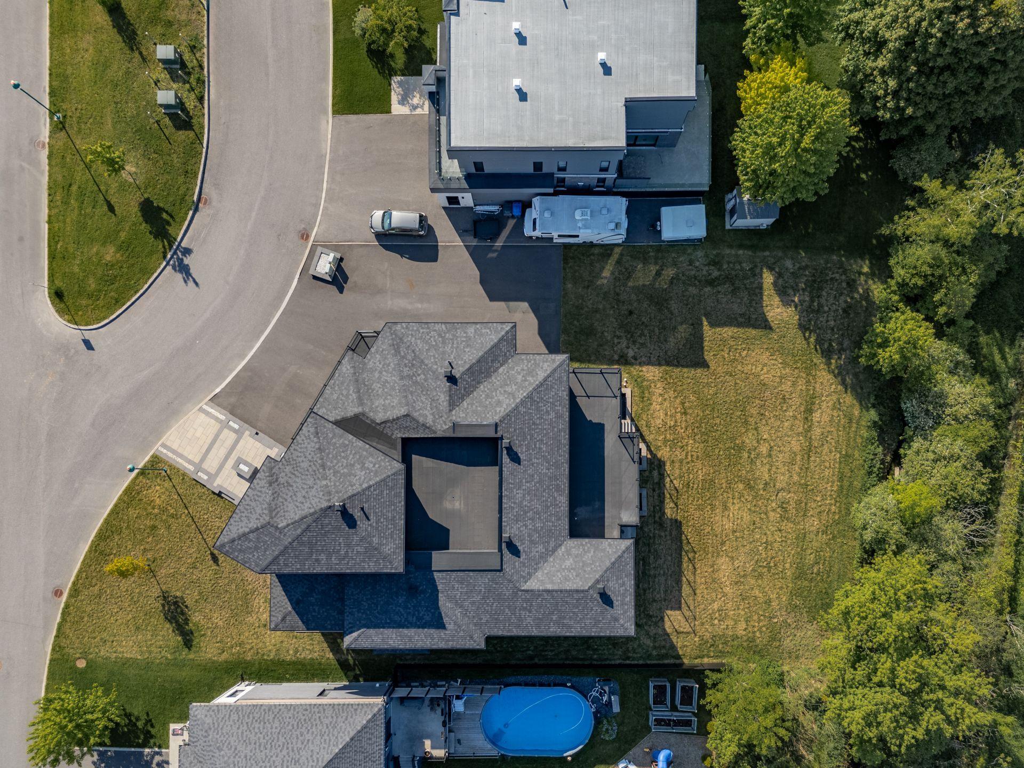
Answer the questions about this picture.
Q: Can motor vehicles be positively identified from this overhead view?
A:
Yes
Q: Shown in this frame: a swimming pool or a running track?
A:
swimming pool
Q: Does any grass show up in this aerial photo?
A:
Yes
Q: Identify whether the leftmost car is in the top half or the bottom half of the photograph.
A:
top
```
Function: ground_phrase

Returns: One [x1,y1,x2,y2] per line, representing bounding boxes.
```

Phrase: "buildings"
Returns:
[724,176,782,229]
[213,322,647,654]
[423,0,709,207]
[178,686,388,768]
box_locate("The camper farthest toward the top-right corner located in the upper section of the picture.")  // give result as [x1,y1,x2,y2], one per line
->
[645,206,708,240]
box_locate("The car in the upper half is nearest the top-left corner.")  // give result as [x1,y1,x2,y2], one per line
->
[370,205,429,237]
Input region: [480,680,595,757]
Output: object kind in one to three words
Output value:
swimming pool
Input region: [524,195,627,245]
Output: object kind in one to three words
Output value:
camper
